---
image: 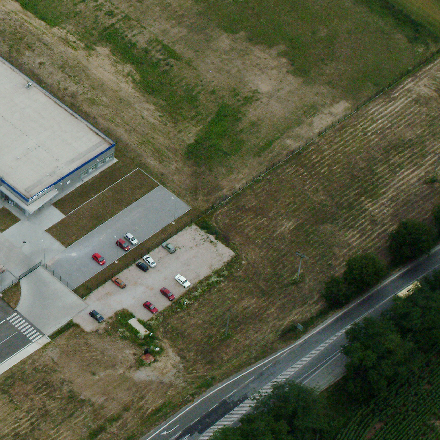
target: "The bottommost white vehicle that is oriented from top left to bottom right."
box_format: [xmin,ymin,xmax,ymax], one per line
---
[174,275,191,288]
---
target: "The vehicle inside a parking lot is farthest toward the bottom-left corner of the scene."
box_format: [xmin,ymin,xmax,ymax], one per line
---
[88,310,104,323]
